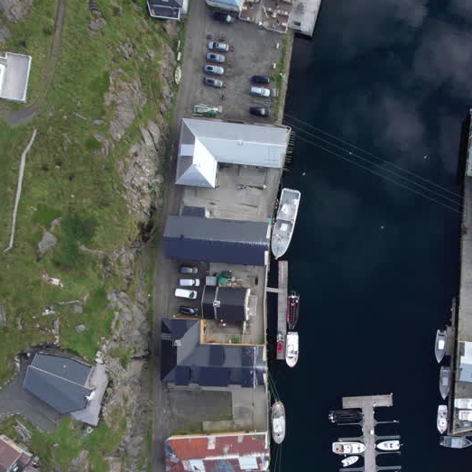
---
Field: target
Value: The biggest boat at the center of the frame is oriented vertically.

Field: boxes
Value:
[273,186,299,257]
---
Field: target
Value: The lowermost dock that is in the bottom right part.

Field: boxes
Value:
[336,394,403,472]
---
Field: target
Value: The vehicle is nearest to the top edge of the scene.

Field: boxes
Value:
[211,10,235,23]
